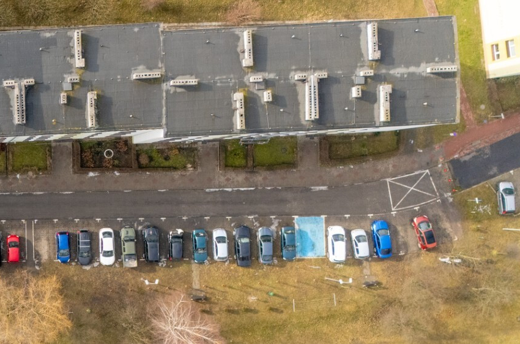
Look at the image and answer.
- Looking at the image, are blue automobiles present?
Yes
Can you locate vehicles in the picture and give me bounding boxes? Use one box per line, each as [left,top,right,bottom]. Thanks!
[211,228,230,261]
[233,225,253,265]
[371,220,391,259]
[142,225,161,262]
[99,228,116,265]
[412,215,436,251]
[326,225,347,262]
[119,227,138,267]
[191,229,209,263]
[168,229,186,260]
[76,229,93,265]
[256,227,275,263]
[496,181,518,215]
[6,234,22,262]
[349,228,370,259]
[55,231,72,263]
[279,225,298,260]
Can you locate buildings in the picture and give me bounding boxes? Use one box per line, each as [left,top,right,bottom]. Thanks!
[479,0,520,78]
[0,16,459,152]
